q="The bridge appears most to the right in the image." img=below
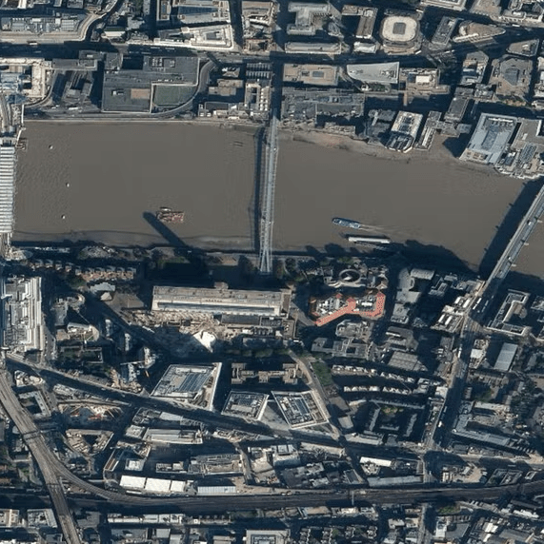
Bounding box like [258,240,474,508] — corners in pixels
[481,181,544,288]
